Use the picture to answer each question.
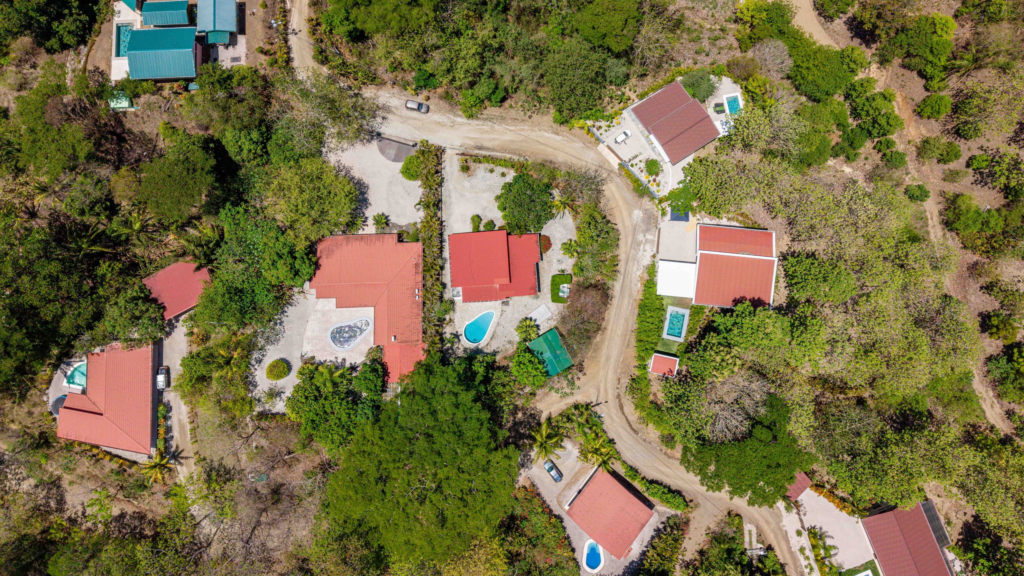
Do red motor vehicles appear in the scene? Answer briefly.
No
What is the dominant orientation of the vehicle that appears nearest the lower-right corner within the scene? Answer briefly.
on a diagonal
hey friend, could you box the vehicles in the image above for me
[404,101,430,115]
[156,367,170,392]
[543,459,565,484]
[612,128,633,146]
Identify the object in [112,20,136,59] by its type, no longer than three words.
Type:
swimming pool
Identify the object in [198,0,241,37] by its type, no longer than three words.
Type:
house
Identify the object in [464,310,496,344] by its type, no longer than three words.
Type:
swimming pool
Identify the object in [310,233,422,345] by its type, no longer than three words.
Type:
house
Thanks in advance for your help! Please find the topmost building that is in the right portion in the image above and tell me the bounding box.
[631,80,721,165]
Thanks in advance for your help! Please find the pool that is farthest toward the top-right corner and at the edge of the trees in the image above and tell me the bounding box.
[723,92,744,120]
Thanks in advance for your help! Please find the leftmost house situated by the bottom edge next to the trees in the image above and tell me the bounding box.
[563,465,655,561]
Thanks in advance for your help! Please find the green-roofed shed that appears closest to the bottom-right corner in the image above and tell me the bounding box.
[529,328,574,378]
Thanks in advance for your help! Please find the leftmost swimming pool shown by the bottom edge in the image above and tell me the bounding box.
[582,538,604,574]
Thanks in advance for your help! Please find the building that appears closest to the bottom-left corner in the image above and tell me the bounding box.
[57,341,156,455]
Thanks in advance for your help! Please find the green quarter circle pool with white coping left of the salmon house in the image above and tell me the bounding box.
[65,359,87,391]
